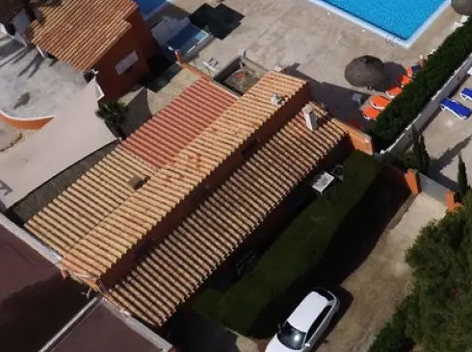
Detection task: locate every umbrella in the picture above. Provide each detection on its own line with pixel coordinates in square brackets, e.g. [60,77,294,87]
[450,0,472,21]
[345,59,386,95]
